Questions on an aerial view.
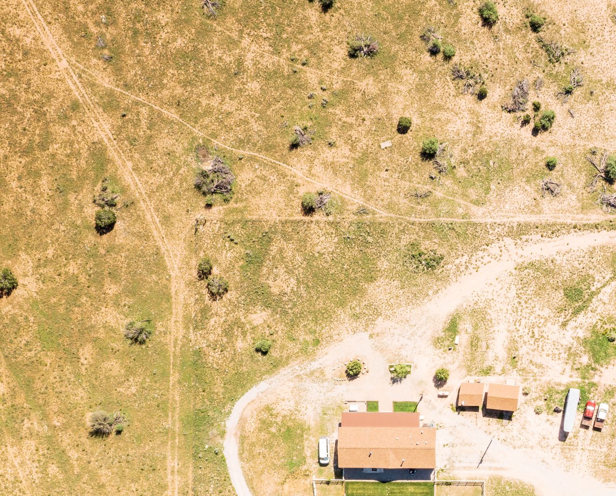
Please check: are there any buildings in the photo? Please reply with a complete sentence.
Yes, the photo shows a building.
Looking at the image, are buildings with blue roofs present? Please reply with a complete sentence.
No, there isn't any building with a blue roof down there.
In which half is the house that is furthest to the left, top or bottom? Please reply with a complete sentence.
The house that is furthest to the left is in the bottom half of the image.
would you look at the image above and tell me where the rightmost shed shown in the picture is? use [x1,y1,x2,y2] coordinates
[487,383,520,411]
